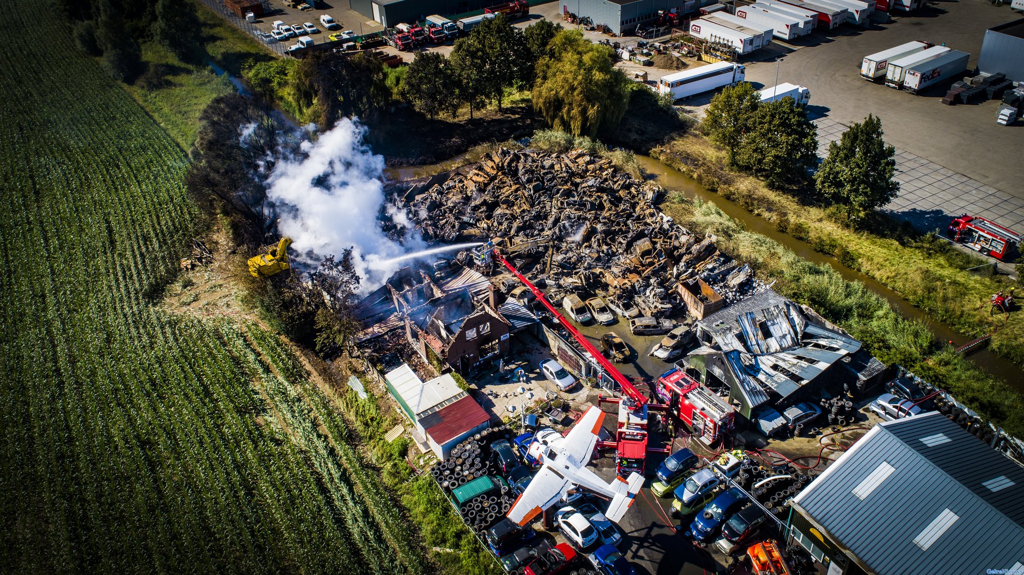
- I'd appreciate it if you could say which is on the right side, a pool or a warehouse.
warehouse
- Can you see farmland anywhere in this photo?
Yes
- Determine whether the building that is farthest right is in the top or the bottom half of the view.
top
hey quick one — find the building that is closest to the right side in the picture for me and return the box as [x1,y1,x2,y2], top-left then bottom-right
[976,18,1024,84]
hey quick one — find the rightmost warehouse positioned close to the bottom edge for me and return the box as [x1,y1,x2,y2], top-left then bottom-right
[780,410,1024,575]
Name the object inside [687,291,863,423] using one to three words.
warehouse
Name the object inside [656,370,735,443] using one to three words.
truck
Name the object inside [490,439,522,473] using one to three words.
car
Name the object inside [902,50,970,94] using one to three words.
trailer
